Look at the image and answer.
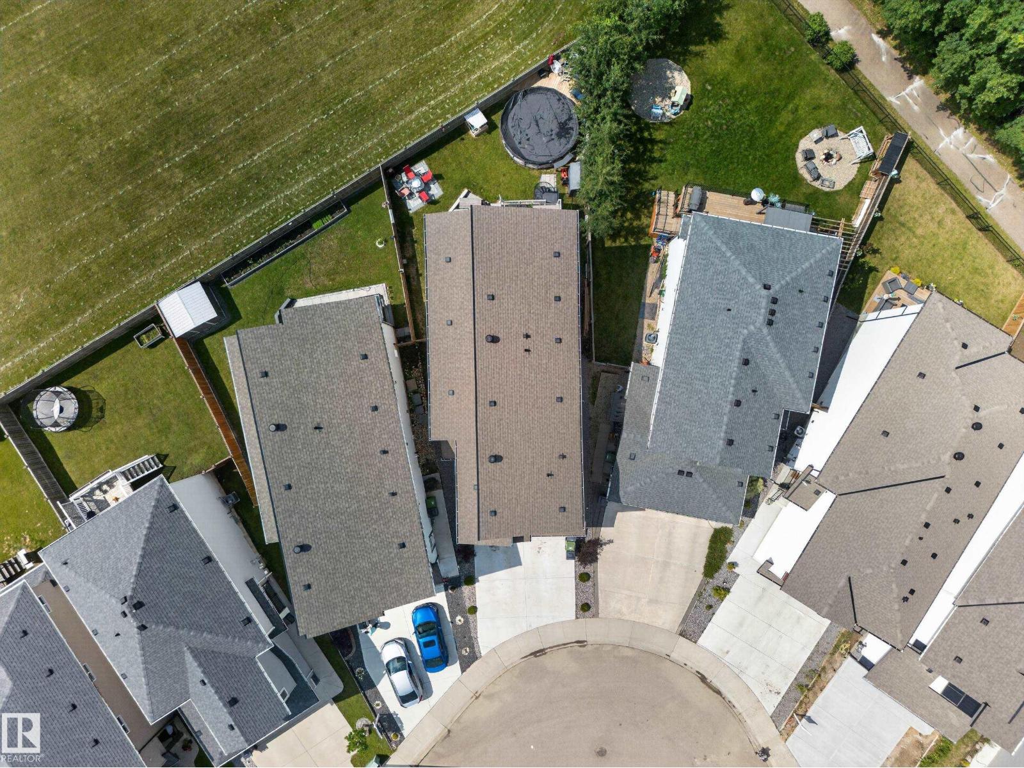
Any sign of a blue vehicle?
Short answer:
Yes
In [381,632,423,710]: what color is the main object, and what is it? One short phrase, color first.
white car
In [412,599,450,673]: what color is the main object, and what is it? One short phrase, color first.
blue car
